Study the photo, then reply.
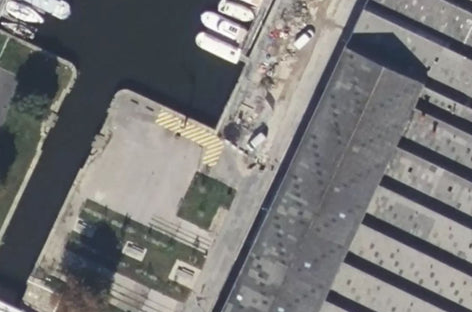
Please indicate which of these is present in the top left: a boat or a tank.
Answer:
boat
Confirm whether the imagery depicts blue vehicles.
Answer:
No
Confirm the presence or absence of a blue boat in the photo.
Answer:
No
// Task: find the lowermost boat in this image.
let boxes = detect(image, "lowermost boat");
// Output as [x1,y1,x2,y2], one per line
[196,34,243,64]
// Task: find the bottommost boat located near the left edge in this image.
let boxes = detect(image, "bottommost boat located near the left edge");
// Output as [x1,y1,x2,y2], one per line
[1,22,37,41]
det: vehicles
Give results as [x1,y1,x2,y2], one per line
[247,131,267,151]
[294,28,312,51]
